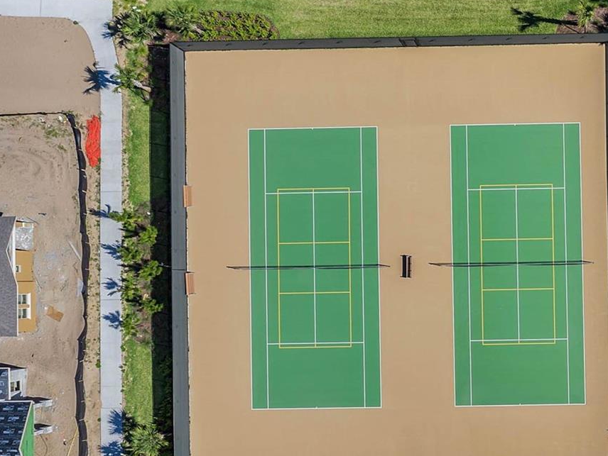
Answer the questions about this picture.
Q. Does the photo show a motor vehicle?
No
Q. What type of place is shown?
sports ground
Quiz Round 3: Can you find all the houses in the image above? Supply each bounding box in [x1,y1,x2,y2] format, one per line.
[0,216,36,336]
[0,367,38,456]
